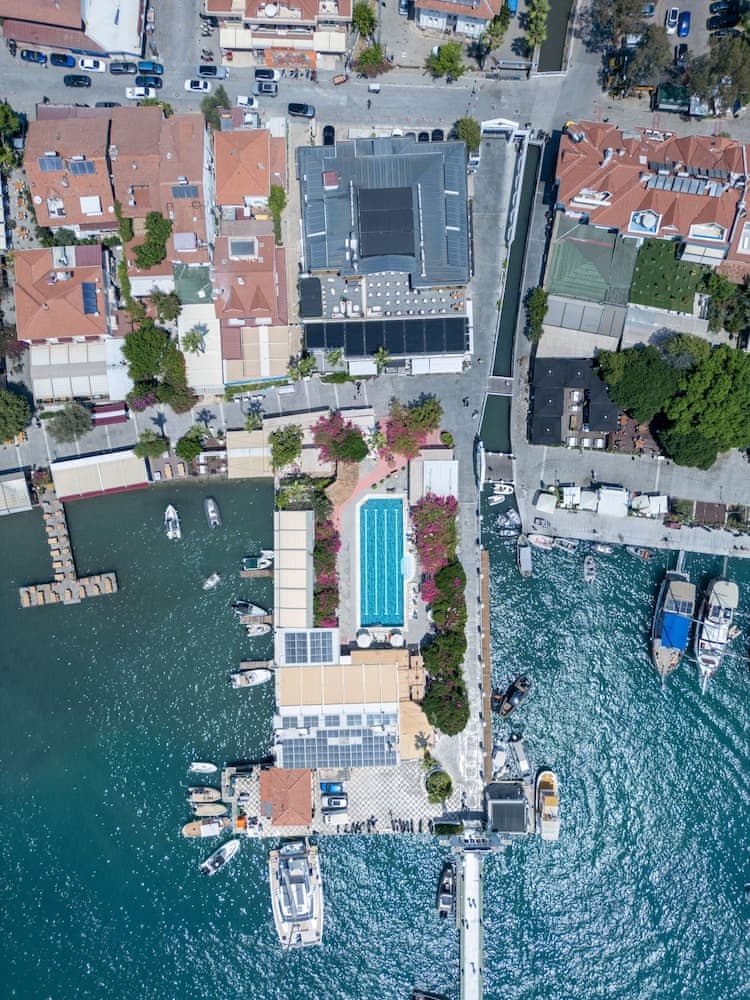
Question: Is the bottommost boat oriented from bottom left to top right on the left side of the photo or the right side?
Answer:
left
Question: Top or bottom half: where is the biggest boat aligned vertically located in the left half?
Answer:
bottom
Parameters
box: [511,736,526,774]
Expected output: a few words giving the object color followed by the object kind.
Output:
white boat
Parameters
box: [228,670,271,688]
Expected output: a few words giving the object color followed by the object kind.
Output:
white boat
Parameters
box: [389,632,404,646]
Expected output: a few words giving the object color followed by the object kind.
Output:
white umbrella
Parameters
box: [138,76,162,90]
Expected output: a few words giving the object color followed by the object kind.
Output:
blue vehicle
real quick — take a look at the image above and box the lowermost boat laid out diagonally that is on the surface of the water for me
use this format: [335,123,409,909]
[197,840,239,876]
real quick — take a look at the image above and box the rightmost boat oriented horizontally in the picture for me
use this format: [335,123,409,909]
[626,546,657,560]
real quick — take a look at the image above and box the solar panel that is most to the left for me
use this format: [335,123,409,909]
[40,157,63,172]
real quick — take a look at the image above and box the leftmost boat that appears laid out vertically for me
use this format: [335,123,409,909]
[165,505,181,543]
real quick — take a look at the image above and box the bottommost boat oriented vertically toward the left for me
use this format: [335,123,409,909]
[269,825,323,962]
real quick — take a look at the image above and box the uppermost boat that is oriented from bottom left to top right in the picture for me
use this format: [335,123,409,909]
[492,513,511,529]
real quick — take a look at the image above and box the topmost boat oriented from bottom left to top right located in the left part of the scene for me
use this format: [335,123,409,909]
[203,571,222,587]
